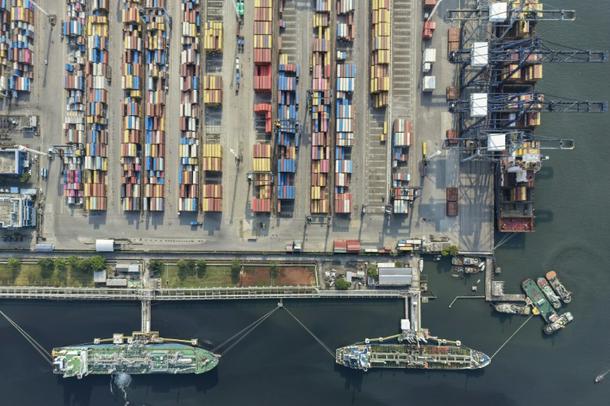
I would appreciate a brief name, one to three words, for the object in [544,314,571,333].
boat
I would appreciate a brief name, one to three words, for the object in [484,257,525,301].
pier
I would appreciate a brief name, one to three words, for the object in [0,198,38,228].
building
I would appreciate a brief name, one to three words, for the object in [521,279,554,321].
ship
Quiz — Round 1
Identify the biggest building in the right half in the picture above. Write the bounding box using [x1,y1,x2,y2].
[378,268,413,285]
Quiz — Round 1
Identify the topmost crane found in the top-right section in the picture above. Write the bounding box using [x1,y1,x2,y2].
[446,0,577,47]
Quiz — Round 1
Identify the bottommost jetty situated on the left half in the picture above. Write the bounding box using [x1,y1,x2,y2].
[94,298,198,357]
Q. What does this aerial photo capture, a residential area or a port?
port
